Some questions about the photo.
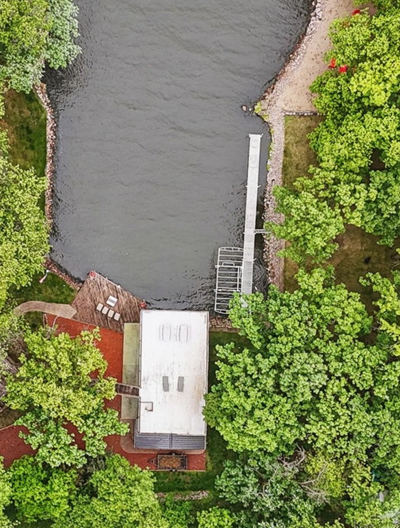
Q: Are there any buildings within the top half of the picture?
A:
No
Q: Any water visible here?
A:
Yes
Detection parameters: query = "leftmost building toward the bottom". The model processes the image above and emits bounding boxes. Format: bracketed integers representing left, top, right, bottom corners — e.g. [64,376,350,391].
[133,311,210,452]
